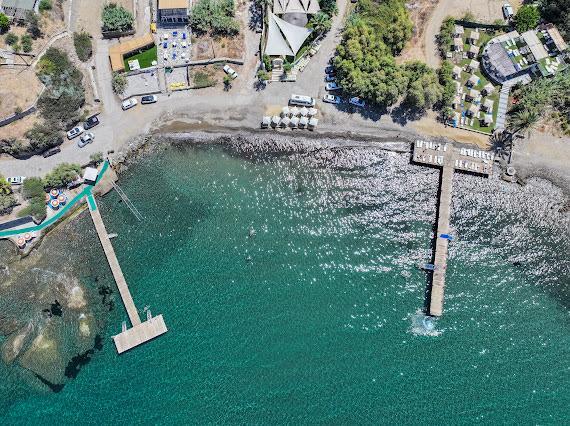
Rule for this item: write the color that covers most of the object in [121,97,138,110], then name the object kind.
white vehicle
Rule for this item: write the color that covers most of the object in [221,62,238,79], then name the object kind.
white vehicle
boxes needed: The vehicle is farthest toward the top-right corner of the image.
[502,1,514,20]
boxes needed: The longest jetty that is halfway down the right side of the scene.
[410,139,495,316]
